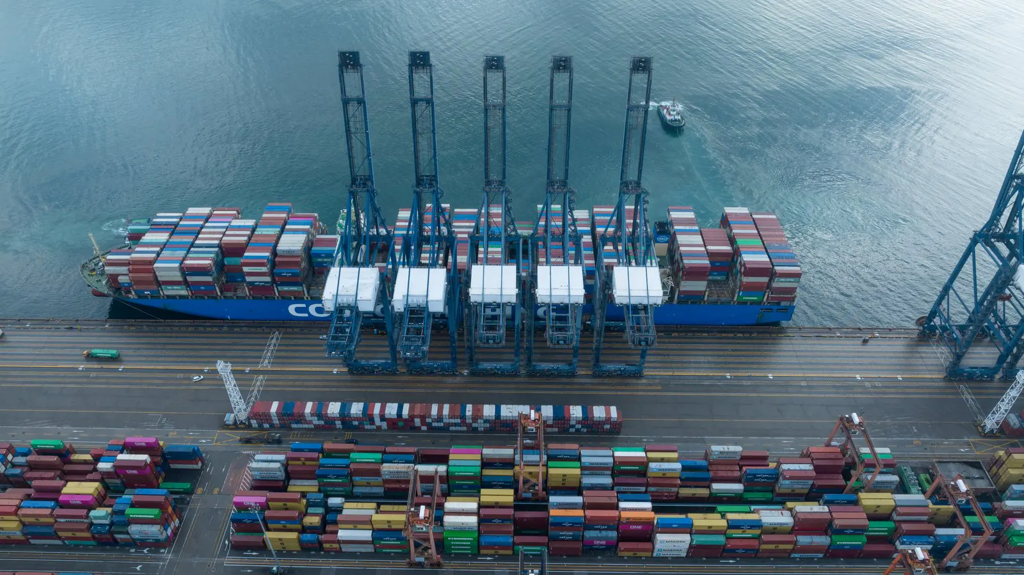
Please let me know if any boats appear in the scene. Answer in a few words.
Yes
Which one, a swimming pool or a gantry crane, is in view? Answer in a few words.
gantry crane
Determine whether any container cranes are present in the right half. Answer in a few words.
Yes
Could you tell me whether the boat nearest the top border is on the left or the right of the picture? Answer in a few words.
right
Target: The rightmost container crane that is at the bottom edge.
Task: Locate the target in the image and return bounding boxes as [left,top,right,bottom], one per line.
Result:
[922,469,999,572]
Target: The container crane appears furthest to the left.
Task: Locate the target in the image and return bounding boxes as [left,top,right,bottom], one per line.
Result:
[319,47,401,373]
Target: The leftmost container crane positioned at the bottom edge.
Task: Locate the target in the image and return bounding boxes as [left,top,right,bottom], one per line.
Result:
[408,464,447,567]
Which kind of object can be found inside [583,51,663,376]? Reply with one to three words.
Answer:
container crane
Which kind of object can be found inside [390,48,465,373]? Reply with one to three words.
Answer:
container crane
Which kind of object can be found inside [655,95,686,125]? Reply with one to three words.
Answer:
boat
